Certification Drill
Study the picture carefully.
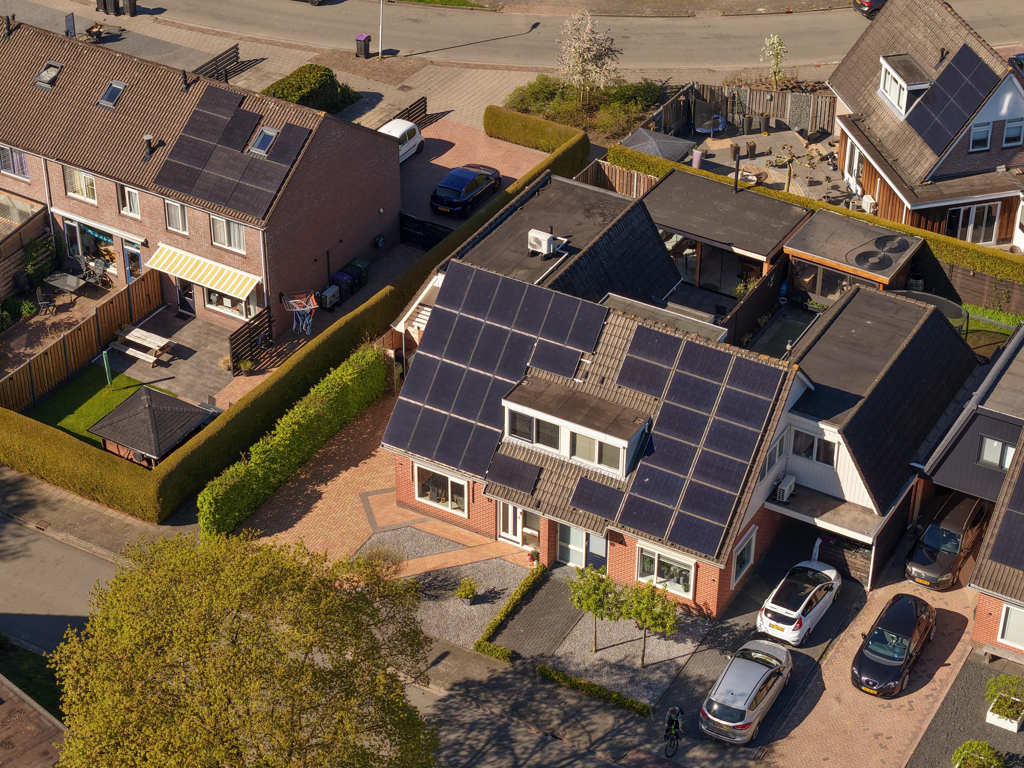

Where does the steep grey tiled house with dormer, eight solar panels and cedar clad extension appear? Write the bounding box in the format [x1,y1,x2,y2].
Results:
[824,0,1024,253]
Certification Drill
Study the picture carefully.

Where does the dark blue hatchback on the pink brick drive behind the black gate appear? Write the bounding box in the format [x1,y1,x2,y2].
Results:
[424,160,503,220]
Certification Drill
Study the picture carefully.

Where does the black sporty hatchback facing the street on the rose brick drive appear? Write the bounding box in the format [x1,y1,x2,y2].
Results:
[848,585,942,695]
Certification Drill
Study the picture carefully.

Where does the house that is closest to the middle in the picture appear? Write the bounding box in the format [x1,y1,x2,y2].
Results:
[373,256,825,622]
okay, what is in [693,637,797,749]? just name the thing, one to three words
car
